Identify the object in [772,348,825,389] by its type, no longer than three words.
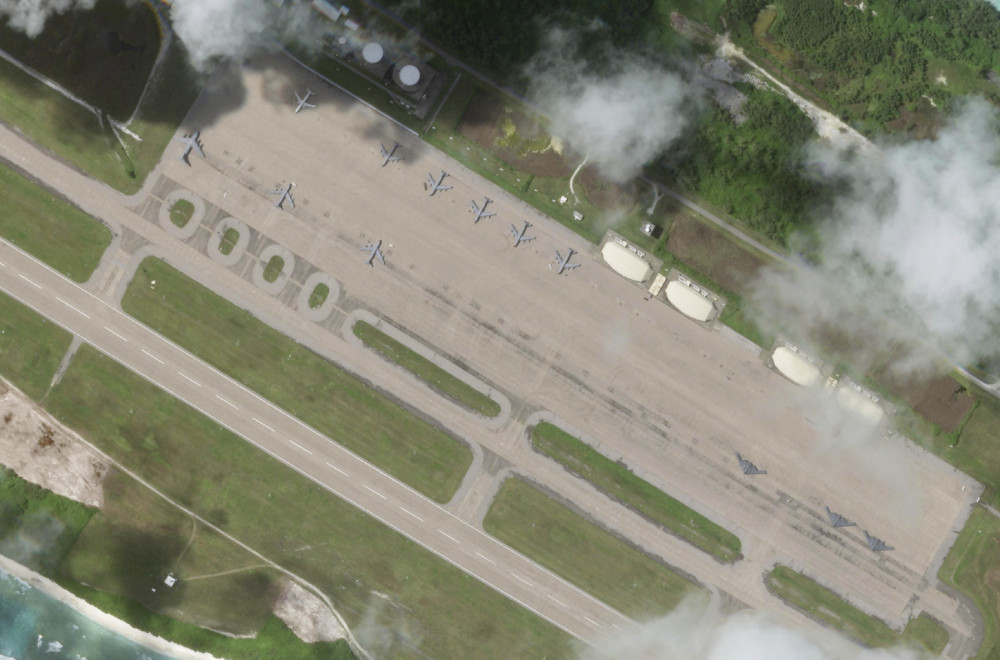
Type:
hangar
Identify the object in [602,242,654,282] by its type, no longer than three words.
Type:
hangar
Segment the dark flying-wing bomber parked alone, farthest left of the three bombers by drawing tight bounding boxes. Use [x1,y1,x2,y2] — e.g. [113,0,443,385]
[737,452,767,474]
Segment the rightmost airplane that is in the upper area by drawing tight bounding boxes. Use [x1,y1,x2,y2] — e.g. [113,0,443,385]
[557,249,580,273]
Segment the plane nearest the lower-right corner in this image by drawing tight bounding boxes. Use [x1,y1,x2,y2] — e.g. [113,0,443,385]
[864,529,896,551]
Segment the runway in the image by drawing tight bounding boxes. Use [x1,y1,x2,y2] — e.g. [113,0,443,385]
[0,237,697,660]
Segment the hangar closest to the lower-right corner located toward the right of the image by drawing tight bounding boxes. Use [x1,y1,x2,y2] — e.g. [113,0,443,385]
[837,384,890,425]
